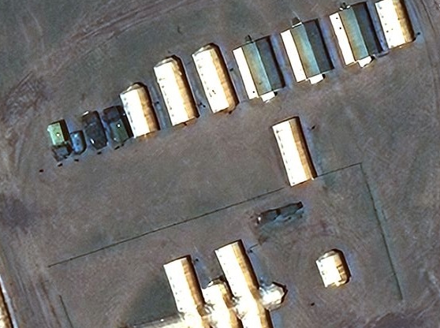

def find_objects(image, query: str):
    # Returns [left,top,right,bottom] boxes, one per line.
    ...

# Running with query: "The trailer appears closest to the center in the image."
[255,201,301,229]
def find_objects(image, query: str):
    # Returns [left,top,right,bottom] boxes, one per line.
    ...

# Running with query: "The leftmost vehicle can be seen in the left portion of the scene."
[45,122,70,161]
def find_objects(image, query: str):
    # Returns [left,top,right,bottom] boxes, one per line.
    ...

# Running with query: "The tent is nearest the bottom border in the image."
[317,249,349,288]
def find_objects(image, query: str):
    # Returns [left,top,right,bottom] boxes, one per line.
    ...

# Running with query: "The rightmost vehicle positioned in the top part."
[103,107,130,145]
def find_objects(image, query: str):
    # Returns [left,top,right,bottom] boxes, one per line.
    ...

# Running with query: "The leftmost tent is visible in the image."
[120,83,157,139]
